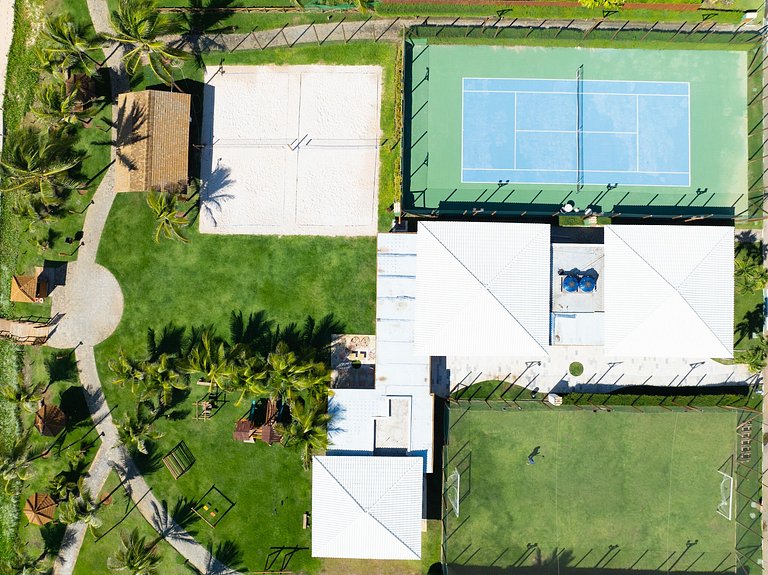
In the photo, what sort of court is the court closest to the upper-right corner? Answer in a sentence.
Looking closely, the court closest to the upper-right corner is a tennis court.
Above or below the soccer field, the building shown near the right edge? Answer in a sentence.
Looking at the photo, you'll find the building shown near the right edge above the soccer field.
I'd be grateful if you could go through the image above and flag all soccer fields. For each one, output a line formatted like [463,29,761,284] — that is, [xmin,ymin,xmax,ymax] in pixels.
[442,399,736,575]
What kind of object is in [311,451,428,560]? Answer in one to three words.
building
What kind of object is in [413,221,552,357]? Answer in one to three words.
building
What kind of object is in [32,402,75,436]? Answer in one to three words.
gazebo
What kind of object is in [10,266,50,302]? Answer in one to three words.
shed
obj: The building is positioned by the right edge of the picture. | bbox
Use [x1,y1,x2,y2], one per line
[597,225,735,358]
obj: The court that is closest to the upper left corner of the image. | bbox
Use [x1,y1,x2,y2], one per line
[200,65,382,236]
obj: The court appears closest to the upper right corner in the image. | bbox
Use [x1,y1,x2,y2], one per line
[404,39,748,218]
